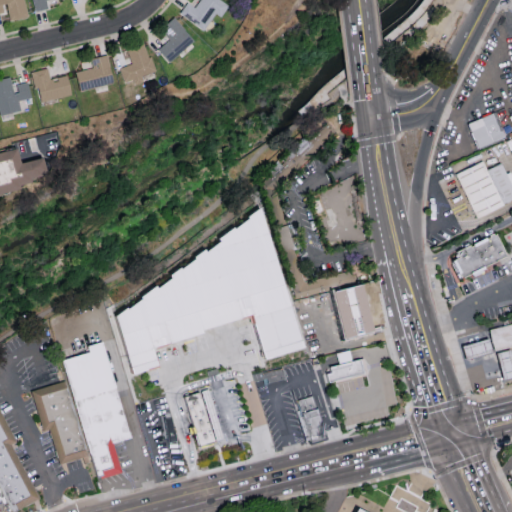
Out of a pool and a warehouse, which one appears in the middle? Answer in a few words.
warehouse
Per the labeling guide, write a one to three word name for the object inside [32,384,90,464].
building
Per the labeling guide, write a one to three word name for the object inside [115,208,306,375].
warehouse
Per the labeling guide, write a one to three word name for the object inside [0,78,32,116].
house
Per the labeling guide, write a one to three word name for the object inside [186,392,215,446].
building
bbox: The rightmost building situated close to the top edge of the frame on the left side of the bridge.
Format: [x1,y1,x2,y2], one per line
[182,0,229,31]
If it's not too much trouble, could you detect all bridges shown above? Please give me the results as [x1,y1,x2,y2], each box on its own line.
[339,0,384,76]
